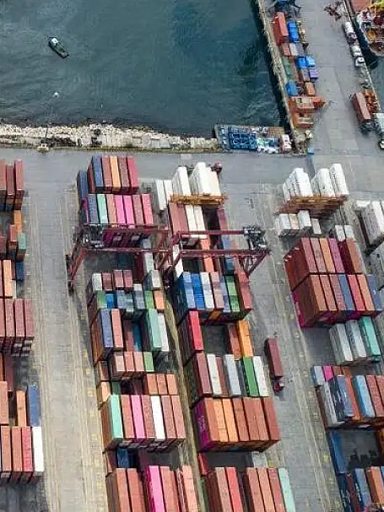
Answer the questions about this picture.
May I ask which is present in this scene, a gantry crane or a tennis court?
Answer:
gantry crane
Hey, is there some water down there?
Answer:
Yes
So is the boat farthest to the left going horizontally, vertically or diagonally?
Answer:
diagonally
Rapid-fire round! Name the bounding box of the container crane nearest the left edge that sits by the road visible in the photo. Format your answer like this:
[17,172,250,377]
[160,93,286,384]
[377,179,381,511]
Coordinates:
[66,224,181,297]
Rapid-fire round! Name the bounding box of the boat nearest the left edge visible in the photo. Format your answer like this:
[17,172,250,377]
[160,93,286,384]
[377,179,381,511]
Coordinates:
[49,39,71,60]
